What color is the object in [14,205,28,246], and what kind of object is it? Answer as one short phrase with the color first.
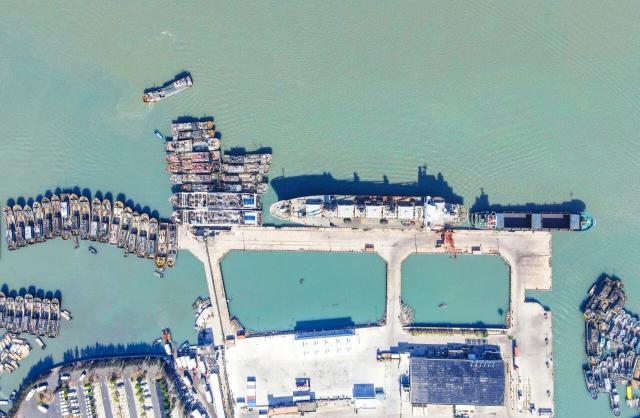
gray boat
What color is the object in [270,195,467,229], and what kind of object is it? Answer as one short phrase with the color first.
white ship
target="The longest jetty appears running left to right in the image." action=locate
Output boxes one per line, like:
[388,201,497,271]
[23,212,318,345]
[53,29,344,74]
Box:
[178,227,551,289]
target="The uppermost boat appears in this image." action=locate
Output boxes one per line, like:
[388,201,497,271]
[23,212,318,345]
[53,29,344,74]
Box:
[142,78,194,100]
